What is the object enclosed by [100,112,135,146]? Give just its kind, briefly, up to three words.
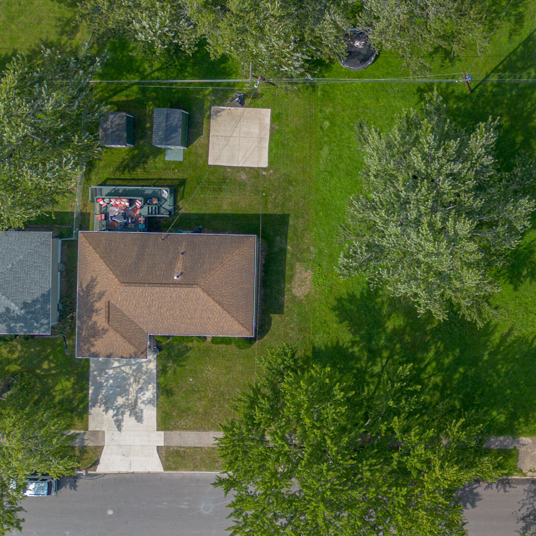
shed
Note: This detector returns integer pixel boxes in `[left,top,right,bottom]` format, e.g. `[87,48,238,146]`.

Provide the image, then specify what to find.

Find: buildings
[0,231,64,335]
[152,107,190,146]
[75,232,261,360]
[100,112,135,146]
